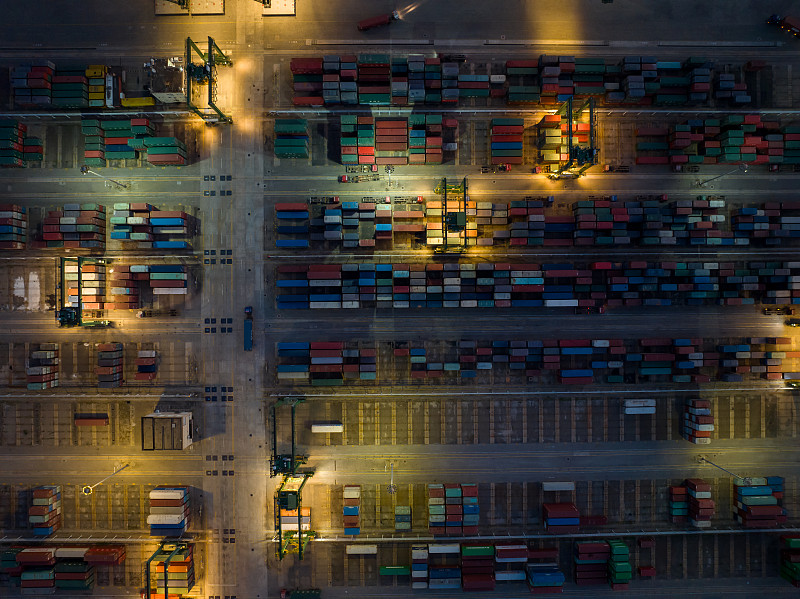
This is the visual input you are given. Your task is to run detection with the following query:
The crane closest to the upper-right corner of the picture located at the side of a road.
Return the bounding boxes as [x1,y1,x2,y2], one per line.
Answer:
[552,94,598,177]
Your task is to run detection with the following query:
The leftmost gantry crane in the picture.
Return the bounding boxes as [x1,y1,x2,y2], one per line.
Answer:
[53,255,112,328]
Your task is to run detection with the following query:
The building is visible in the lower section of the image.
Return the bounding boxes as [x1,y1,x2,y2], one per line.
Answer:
[141,412,195,450]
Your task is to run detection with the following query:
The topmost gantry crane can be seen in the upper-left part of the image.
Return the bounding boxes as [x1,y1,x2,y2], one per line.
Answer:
[184,39,232,124]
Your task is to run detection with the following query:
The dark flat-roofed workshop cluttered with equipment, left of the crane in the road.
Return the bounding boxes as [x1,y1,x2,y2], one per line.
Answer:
[150,59,188,107]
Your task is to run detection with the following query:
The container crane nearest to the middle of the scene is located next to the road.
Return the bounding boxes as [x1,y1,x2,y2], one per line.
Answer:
[436,177,472,252]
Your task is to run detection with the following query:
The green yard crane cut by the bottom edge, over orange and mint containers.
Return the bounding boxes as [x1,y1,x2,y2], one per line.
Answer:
[140,543,191,599]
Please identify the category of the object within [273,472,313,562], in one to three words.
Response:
container crane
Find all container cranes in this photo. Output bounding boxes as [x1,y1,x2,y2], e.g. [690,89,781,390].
[140,543,191,599]
[184,39,232,124]
[436,177,472,252]
[273,472,313,562]
[53,255,112,328]
[552,94,598,177]
[267,396,308,476]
